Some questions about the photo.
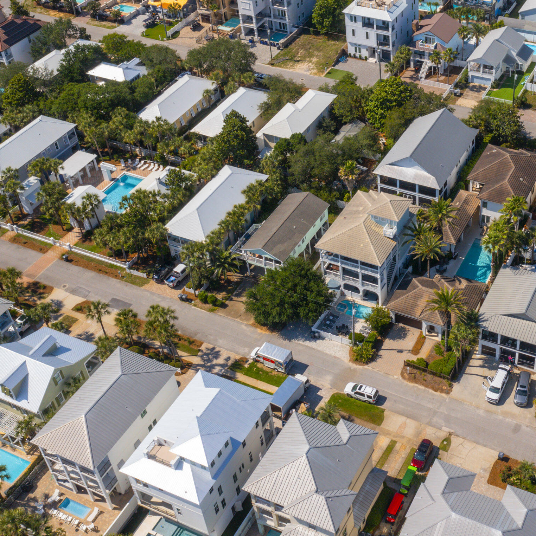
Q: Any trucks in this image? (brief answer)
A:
Yes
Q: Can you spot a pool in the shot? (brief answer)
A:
Yes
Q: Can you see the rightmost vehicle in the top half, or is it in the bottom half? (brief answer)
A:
bottom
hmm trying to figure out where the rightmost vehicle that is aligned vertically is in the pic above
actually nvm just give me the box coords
[513,375,533,409]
